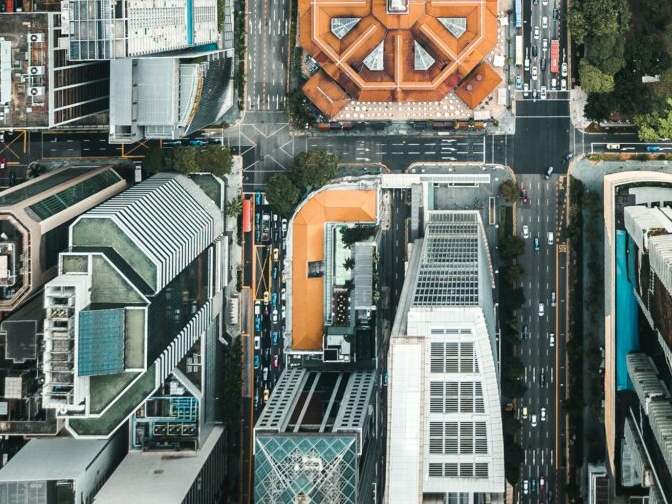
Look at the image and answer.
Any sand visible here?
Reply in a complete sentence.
No, there's no sand in this view.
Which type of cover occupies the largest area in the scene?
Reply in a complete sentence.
What you mostly see from above here is buildings.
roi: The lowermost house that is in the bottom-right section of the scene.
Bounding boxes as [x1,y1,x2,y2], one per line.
[588,465,611,504]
